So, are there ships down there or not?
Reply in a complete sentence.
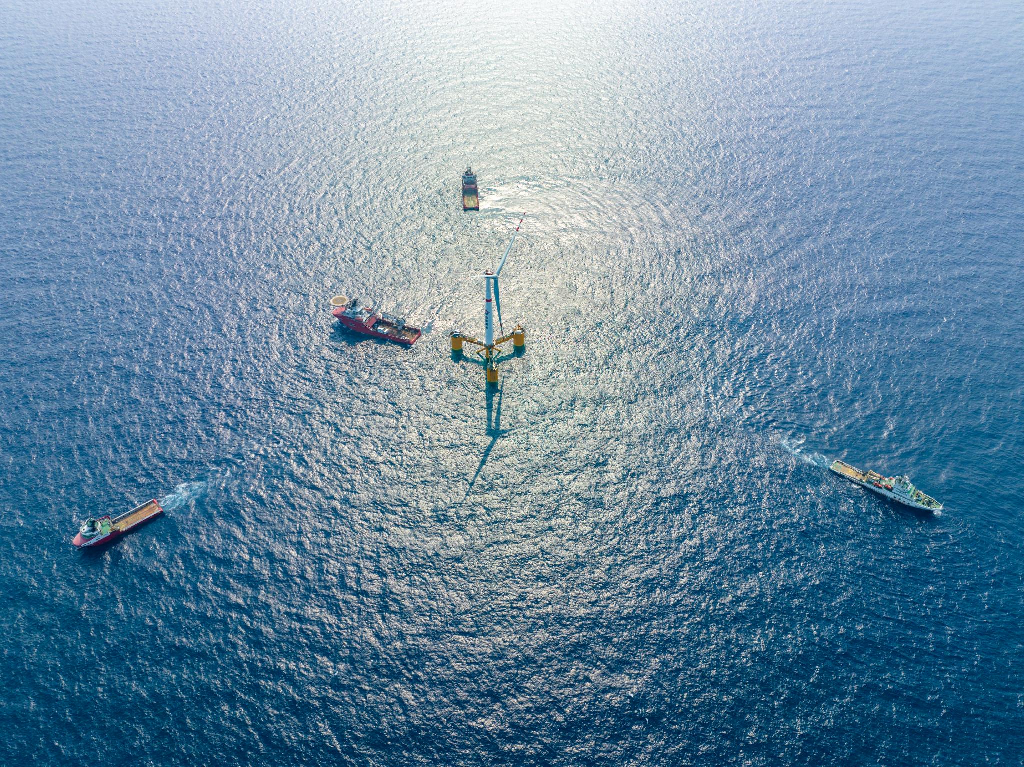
Yes, a ship is visible in the scene.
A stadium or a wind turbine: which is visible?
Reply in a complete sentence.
The one in the frame is a wind turbine.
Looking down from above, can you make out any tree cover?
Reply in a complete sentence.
No, there is no tree cover in the image.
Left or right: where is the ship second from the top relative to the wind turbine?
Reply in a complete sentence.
Compared with the wind turbine, the ship second from the top is located further to the left.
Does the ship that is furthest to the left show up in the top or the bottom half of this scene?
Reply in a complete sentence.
It is in the bottom half that the ship that is furthest to the left appears.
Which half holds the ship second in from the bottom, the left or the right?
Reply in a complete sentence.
It is on the right.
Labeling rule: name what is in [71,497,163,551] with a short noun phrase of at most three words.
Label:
ship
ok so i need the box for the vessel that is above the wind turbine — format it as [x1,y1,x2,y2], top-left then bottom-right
[462,164,479,209]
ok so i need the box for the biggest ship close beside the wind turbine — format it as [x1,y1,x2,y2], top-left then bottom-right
[330,296,422,345]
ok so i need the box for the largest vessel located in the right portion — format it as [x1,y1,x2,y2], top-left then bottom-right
[831,460,945,514]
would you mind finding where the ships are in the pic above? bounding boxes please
[831,460,945,514]
[330,296,422,345]
[71,497,163,551]
[462,164,479,209]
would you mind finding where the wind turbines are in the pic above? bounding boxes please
[449,214,526,385]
